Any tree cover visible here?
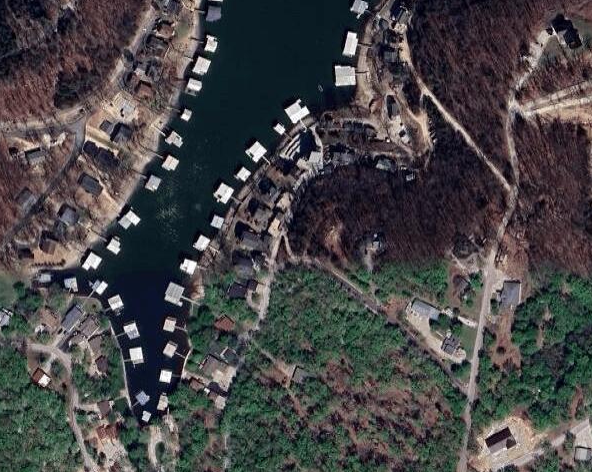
Yes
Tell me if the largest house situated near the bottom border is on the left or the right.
right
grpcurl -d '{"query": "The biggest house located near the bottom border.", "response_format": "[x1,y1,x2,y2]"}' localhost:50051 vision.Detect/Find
[486,427,517,453]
